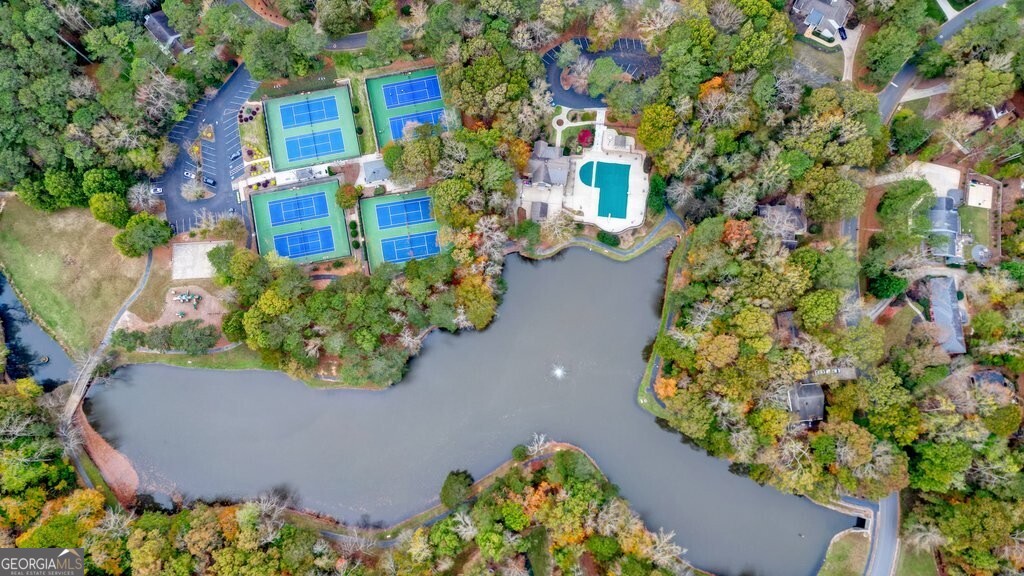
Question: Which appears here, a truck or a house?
house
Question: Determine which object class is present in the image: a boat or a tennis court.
tennis court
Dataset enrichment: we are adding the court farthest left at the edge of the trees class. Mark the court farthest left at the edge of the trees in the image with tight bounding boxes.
[171,240,233,280]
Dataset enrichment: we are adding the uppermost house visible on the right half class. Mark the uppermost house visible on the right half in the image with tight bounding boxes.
[788,0,854,39]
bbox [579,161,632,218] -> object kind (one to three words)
swimming pool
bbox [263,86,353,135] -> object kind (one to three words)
tennis court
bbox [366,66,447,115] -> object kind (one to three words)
tennis court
